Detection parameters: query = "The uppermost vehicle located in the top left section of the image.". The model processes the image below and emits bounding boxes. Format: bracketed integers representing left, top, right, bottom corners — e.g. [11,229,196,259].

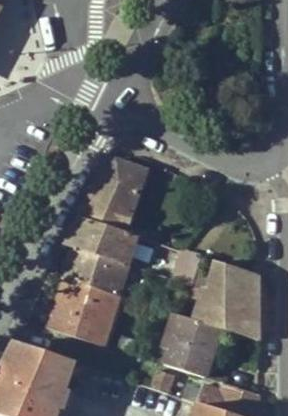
[39,16,55,50]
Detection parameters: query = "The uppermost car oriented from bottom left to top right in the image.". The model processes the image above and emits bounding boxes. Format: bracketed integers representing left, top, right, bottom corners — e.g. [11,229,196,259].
[115,86,136,108]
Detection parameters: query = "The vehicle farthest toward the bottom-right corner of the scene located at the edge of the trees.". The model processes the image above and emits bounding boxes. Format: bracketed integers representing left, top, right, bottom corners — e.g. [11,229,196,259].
[234,372,256,386]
